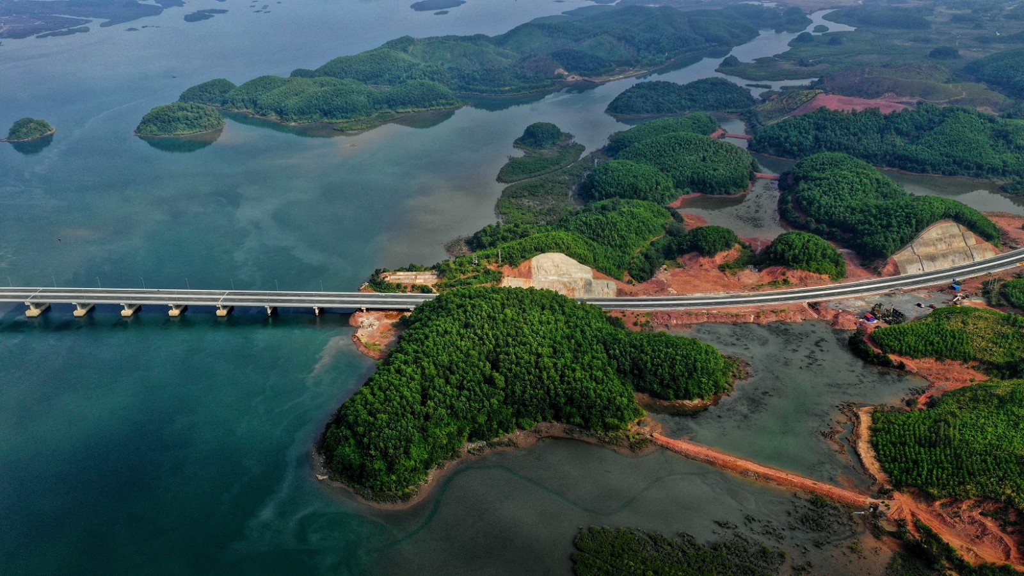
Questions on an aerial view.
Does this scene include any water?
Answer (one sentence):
Yes, some water is visible.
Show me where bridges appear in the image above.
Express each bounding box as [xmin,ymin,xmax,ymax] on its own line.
[0,286,423,321]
